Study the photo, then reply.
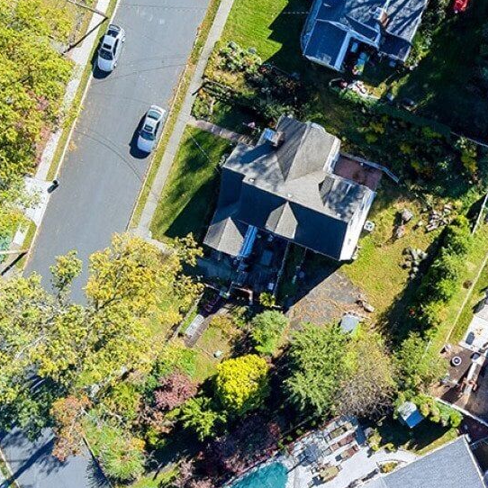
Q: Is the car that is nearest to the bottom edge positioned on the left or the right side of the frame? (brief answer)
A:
left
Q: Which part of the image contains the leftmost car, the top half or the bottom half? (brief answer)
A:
top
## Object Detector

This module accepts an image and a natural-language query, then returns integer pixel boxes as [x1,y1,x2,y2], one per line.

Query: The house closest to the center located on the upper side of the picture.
[203,116,382,263]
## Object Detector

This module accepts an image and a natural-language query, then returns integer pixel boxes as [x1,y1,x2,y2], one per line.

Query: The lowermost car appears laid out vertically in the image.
[136,103,167,154]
